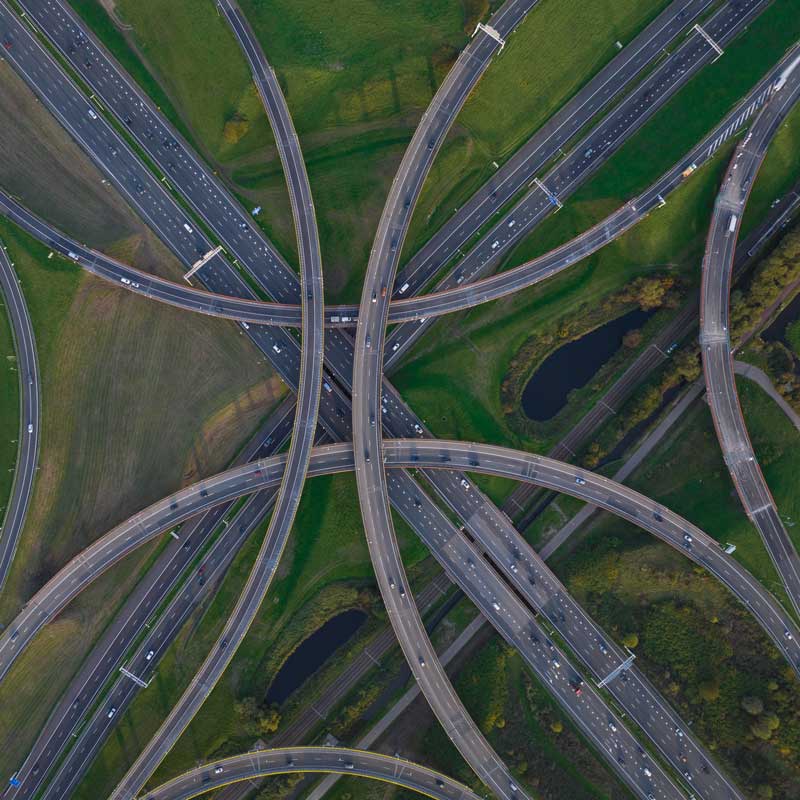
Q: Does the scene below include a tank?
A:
No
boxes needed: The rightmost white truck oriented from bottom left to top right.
[775,60,800,91]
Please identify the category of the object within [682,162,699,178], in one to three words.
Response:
vehicle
